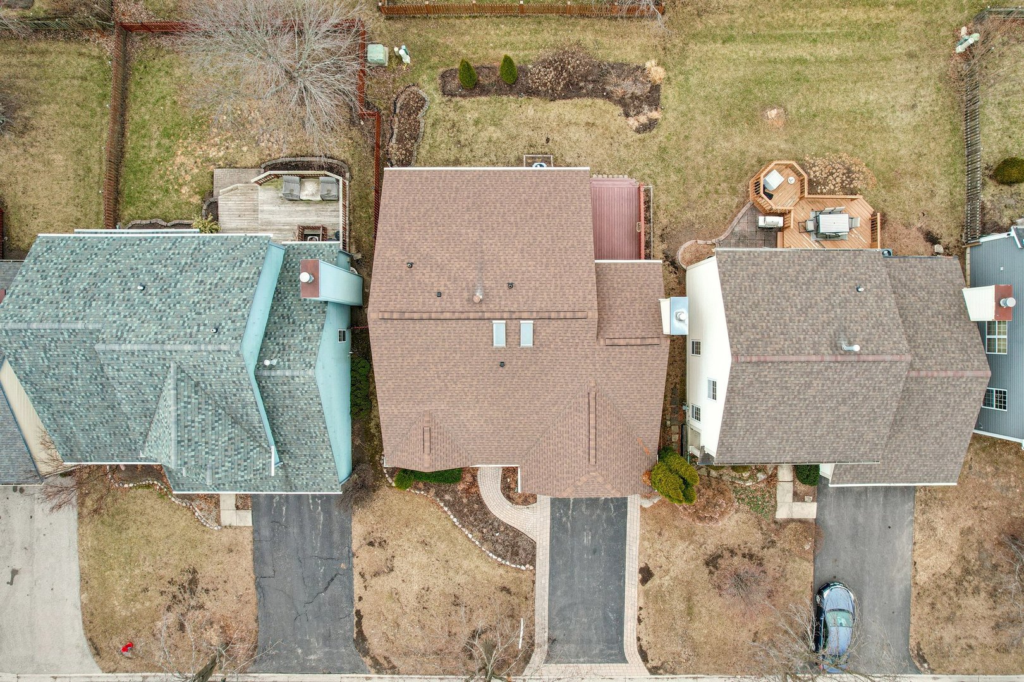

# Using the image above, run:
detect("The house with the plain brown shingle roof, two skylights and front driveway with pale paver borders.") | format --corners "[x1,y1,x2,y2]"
[369,165,689,500]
